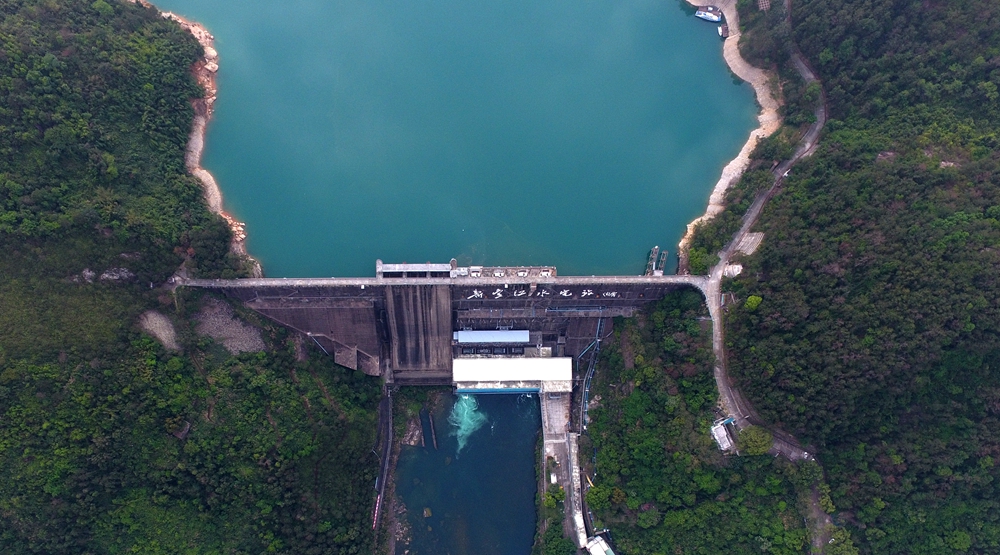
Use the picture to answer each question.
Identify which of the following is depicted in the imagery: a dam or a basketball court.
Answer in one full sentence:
I can see a dam in this picture.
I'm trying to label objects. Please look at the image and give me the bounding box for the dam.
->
[185,259,716,387]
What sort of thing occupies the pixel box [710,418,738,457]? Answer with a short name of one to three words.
house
